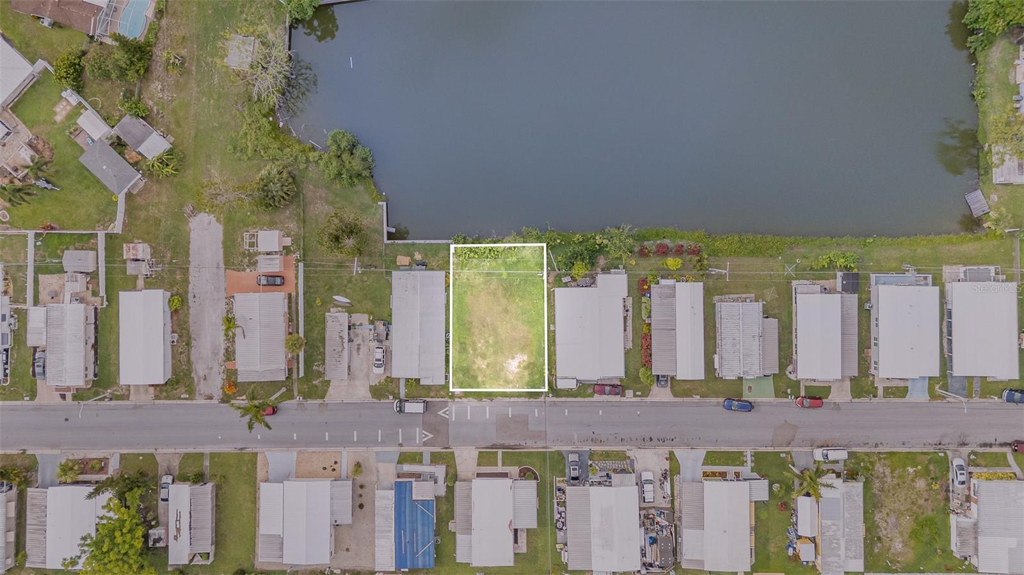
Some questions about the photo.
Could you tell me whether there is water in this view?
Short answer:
Yes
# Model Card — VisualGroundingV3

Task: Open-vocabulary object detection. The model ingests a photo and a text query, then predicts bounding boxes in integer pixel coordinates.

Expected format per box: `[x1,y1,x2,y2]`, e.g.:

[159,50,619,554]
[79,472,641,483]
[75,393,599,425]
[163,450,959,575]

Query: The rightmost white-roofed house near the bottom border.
[942,476,1024,573]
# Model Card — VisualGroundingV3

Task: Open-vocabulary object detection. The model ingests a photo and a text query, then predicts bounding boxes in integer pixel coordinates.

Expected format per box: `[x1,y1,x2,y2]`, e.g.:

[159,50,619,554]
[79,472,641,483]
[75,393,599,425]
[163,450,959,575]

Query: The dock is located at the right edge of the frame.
[963,190,990,217]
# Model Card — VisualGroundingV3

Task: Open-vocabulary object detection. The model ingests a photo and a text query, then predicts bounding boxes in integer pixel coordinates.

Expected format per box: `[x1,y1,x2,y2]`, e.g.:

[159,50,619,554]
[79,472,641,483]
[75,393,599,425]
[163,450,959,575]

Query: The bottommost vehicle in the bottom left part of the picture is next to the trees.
[158,474,174,502]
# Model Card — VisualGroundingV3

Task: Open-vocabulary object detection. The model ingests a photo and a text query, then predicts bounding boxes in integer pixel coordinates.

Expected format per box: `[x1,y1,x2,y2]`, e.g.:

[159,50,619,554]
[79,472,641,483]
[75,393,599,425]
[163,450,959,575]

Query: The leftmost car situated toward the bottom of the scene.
[32,351,46,379]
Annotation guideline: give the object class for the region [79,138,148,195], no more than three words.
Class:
shed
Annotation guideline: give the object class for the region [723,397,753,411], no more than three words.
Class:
car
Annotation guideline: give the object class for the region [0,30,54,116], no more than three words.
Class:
house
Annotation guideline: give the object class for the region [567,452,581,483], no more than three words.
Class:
car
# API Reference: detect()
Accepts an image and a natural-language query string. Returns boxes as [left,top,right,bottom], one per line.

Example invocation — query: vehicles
[593,383,622,396]
[158,474,174,502]
[1008,439,1024,453]
[256,273,285,287]
[372,345,386,375]
[394,399,428,414]
[32,351,46,379]
[795,395,823,409]
[567,452,581,483]
[656,375,669,391]
[640,470,654,504]
[812,447,847,462]
[723,397,753,411]
[950,457,966,487]
[1001,389,1024,403]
